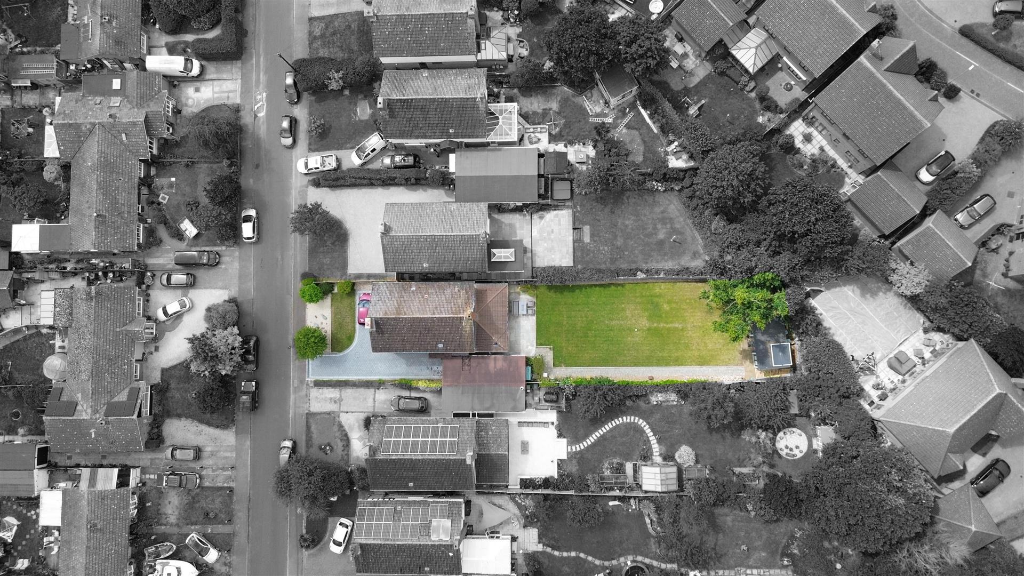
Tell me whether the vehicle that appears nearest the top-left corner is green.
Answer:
No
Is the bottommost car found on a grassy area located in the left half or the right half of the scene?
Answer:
left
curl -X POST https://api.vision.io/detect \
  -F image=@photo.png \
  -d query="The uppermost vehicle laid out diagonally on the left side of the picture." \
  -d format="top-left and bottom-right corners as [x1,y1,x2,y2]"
[351,132,387,166]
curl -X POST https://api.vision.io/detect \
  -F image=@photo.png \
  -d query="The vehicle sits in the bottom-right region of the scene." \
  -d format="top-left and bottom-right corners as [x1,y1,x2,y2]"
[971,459,1008,495]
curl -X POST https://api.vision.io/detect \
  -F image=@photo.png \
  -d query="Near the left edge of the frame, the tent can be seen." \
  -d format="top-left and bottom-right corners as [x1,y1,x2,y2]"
[39,352,68,381]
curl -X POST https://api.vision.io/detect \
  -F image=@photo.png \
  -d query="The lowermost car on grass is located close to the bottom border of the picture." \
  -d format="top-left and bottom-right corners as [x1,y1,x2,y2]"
[187,530,220,563]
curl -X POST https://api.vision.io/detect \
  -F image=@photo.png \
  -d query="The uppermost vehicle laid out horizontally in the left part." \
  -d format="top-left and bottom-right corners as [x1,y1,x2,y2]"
[143,55,205,79]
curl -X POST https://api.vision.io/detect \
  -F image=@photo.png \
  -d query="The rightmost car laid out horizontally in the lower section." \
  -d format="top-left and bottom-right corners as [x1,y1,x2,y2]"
[391,395,428,413]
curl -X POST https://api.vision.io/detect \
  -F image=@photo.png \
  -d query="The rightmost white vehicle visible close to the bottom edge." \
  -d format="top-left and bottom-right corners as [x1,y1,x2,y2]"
[329,516,353,554]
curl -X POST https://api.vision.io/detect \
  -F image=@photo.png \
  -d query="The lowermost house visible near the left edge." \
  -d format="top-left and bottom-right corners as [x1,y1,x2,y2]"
[39,484,147,576]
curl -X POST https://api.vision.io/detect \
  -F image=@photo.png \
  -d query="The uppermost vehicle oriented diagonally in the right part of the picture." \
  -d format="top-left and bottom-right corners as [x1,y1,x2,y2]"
[917,150,955,183]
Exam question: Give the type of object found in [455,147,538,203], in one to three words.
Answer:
building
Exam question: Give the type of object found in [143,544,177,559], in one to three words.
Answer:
boat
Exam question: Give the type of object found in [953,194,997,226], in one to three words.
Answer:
car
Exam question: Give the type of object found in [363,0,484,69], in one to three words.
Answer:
house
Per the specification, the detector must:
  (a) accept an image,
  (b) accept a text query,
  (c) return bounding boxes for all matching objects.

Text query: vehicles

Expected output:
[971,459,1008,495]
[278,434,297,469]
[143,55,205,79]
[157,295,194,322]
[953,194,997,226]
[282,72,301,105]
[391,395,428,413]
[237,380,258,413]
[187,530,220,563]
[161,271,197,289]
[351,132,387,166]
[240,209,259,243]
[173,249,222,268]
[279,114,298,148]
[988,0,1024,17]
[298,154,340,173]
[917,150,955,183]
[356,292,371,326]
[167,444,202,463]
[329,516,353,554]
[382,151,421,170]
